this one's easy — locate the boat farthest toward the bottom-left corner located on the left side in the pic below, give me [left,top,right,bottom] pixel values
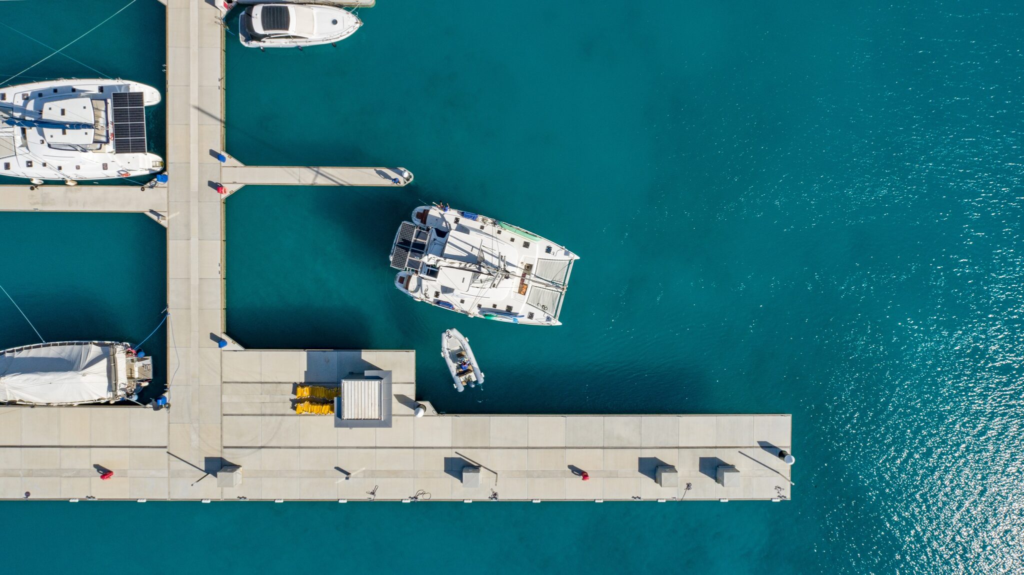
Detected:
[0,340,153,404]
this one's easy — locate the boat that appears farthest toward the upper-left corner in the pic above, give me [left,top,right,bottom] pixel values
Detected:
[0,74,167,182]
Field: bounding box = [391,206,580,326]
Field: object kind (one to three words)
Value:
boat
